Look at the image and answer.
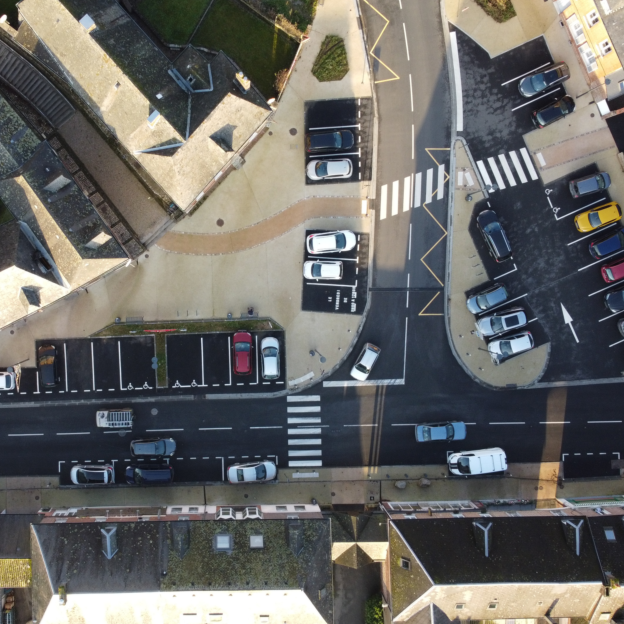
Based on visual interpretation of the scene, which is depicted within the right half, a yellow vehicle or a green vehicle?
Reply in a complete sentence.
The one visible within the right half is a yellow vehicle.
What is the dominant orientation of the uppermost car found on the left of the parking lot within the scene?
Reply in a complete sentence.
The uppermost car found on the left of the parking lot is laid out from left to right.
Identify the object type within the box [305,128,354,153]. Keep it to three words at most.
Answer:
car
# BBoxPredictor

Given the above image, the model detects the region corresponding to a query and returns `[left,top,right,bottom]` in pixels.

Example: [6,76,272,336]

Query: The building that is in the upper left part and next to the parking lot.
[16,0,313,215]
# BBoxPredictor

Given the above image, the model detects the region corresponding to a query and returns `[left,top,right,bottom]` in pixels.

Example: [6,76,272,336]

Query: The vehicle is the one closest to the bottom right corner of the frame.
[444,448,511,475]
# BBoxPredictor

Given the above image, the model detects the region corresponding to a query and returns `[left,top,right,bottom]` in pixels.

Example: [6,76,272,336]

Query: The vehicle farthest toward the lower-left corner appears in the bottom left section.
[71,464,116,487]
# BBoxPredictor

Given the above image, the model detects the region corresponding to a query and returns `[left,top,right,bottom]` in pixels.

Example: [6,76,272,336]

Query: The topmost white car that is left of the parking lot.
[306,157,353,181]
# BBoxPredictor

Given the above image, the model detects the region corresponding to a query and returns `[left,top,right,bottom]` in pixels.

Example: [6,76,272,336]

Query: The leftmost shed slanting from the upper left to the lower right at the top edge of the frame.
[13,21,71,85]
